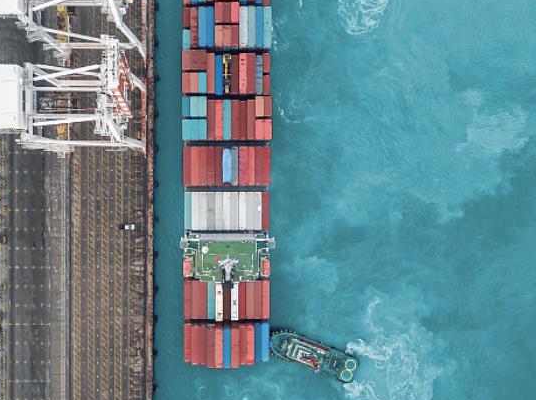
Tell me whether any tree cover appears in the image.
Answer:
No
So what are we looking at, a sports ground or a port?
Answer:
port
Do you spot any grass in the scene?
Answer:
No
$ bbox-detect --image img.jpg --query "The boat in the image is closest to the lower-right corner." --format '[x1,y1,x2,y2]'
[270,333,363,389]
